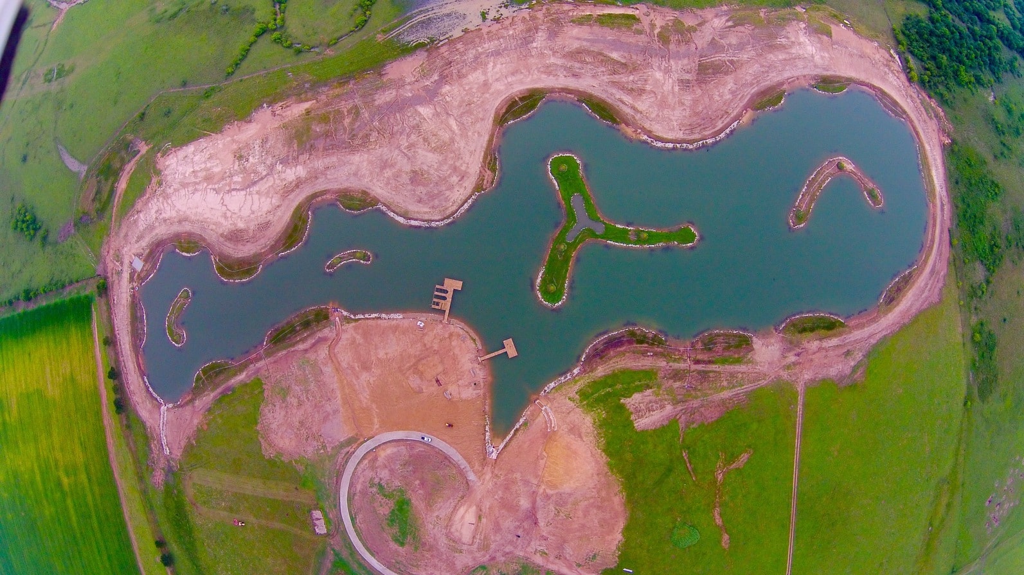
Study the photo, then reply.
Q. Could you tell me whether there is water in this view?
Yes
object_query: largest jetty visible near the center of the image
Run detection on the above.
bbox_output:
[432,278,462,324]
